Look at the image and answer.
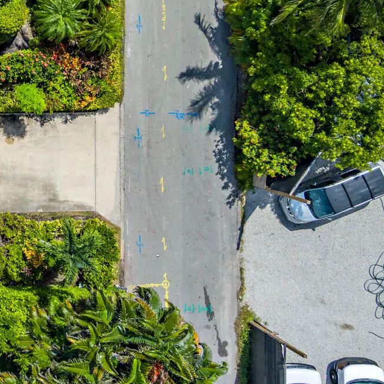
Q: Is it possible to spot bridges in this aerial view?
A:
No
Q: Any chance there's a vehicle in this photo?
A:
Yes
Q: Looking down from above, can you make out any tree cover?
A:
Yes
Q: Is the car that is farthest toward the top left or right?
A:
right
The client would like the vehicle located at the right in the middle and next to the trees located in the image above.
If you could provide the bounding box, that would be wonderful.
[275,171,382,231]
